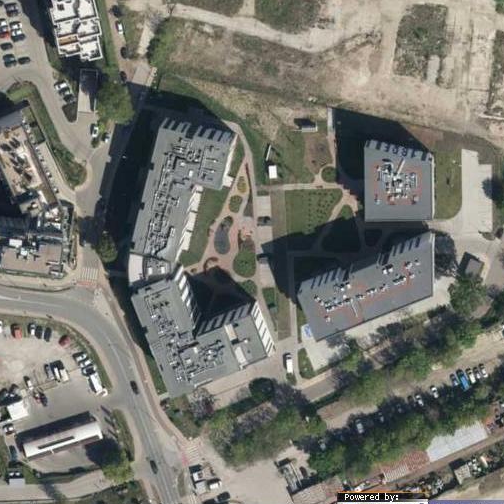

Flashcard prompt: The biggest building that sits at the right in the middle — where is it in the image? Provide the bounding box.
[298,231,434,341]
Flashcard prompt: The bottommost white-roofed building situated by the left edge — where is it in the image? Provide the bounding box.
[23,419,102,458]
